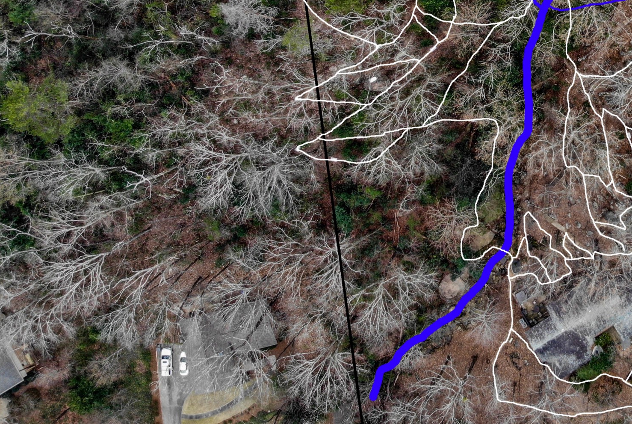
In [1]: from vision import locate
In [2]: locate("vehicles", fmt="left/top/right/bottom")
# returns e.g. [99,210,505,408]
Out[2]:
[178,351,190,376]
[160,347,174,377]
